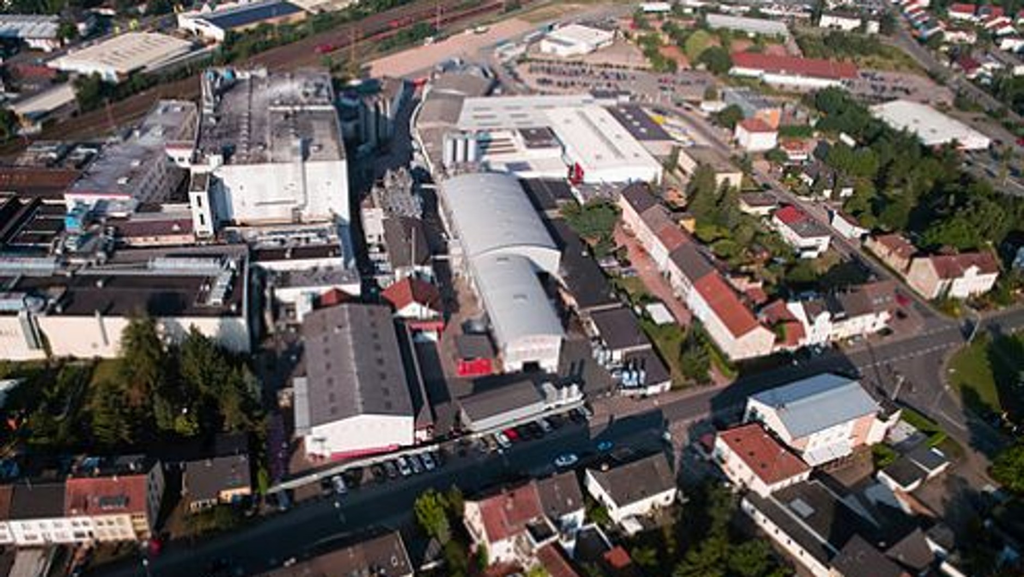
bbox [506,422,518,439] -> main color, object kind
red vehicle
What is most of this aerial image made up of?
buildings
